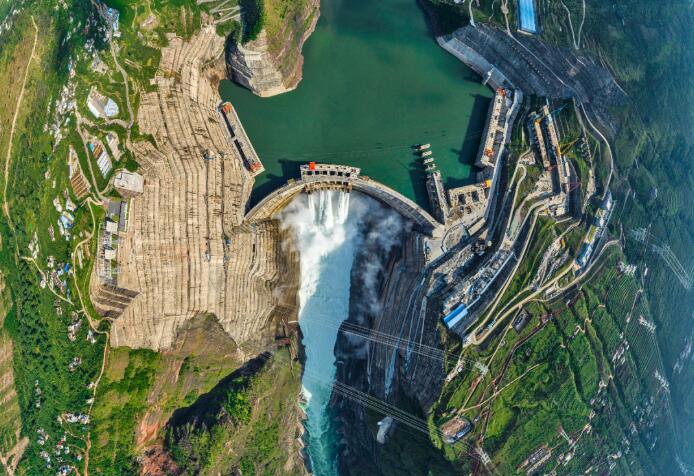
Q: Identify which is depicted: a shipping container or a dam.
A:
dam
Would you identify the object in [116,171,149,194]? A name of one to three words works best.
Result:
building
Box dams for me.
[239,166,443,243]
